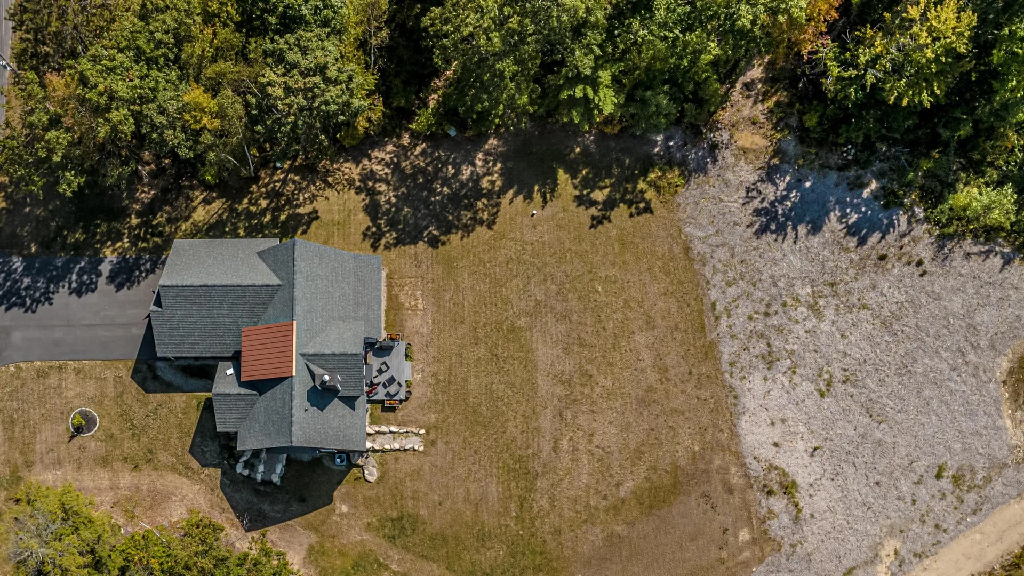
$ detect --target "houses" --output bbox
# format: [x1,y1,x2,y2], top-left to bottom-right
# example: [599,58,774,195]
[150,238,382,451]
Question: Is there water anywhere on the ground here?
No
